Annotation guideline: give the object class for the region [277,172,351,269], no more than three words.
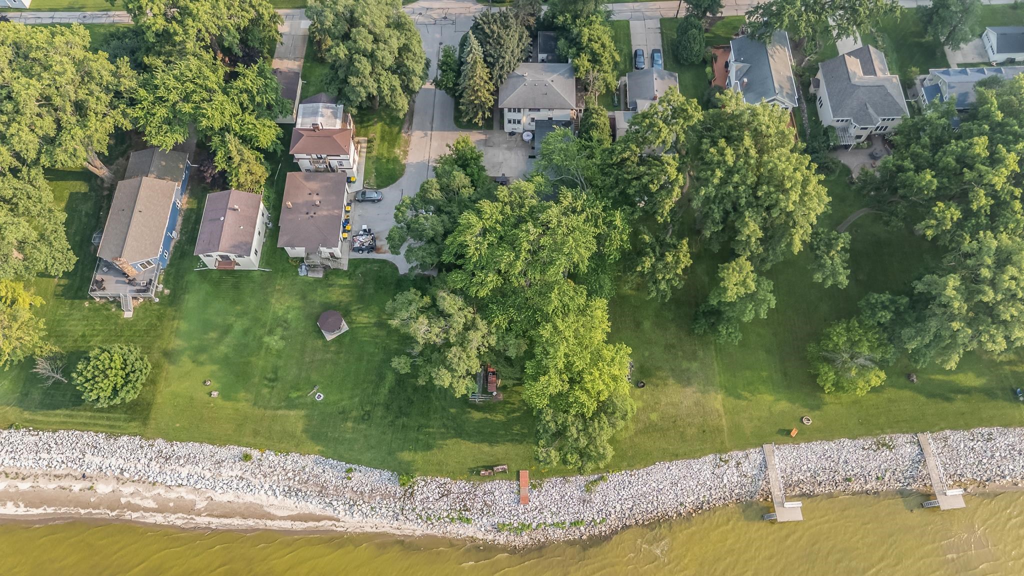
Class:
house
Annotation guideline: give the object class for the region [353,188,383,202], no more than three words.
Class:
car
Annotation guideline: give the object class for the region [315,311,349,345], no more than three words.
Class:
gazebo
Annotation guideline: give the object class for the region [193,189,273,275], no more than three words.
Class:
house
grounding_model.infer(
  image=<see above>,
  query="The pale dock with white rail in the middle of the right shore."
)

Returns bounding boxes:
[757,440,802,523]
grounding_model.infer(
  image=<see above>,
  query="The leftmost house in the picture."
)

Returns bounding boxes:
[97,147,206,274]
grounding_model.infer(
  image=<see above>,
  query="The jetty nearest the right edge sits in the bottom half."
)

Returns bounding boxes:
[916,430,966,512]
